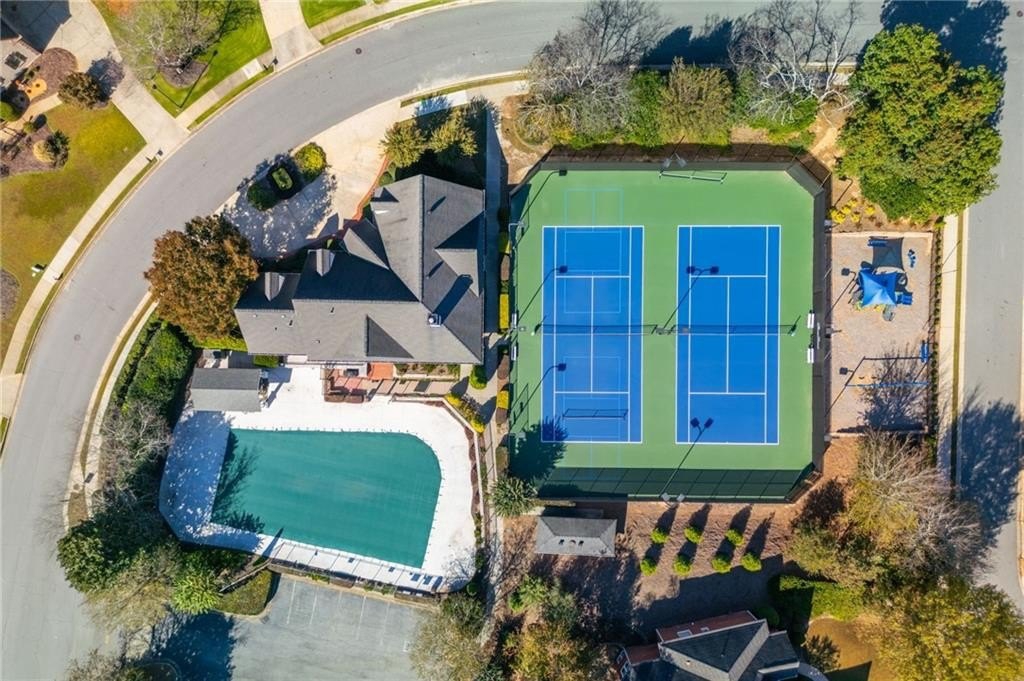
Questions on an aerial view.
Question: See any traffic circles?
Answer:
No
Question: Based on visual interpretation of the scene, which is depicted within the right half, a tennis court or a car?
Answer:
tennis court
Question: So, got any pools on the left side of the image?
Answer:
Yes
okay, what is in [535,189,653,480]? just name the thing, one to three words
tennis court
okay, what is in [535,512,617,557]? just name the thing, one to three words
building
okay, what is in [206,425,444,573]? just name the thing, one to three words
swimming pool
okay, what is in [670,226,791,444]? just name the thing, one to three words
tennis court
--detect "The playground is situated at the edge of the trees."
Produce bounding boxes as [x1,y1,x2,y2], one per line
[830,232,933,433]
